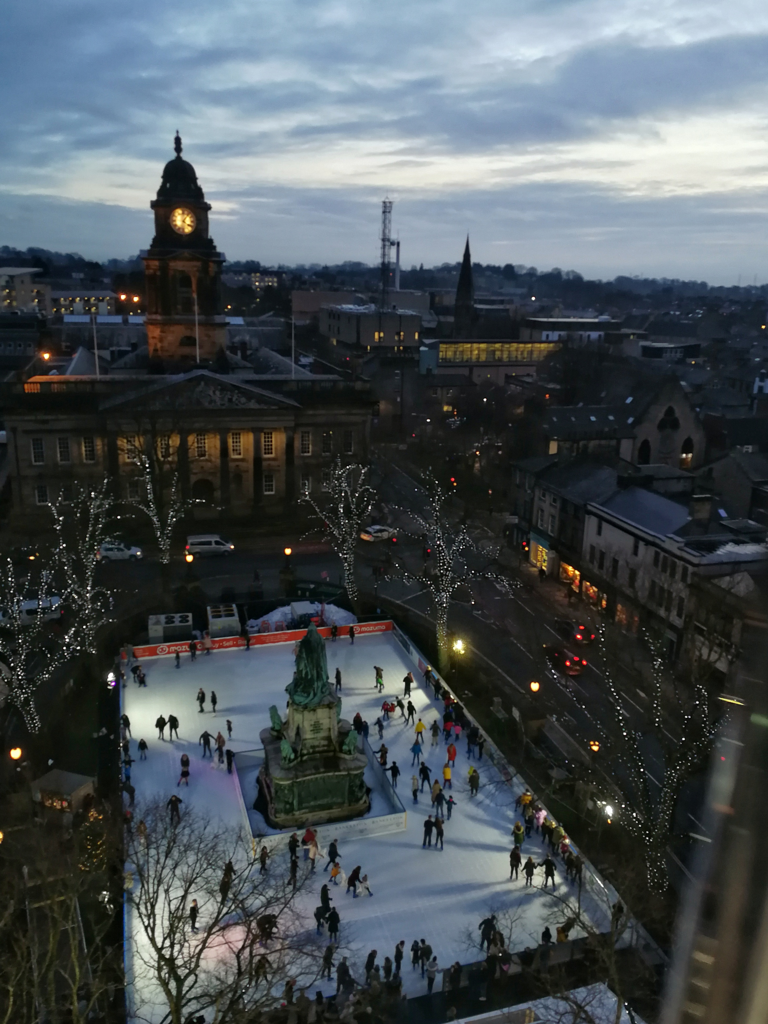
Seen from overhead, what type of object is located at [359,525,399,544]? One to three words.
car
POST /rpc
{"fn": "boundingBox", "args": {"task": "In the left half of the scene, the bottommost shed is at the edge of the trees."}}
[18,773,92,850]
